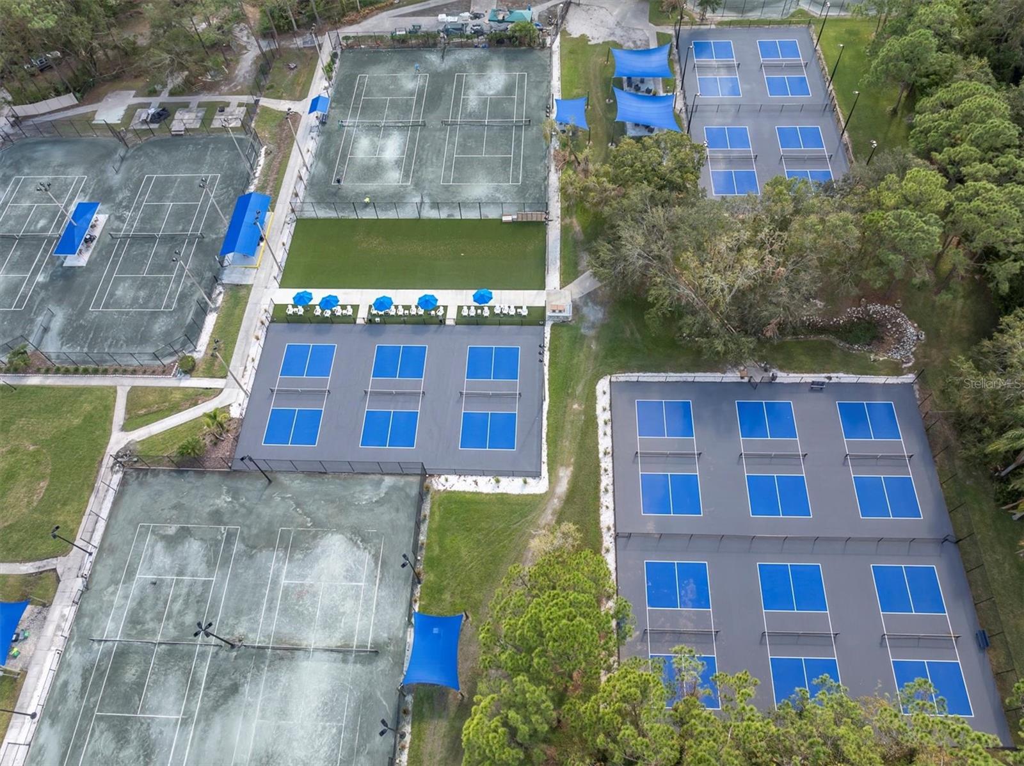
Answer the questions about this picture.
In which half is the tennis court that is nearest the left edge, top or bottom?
top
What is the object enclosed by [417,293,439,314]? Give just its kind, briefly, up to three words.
umbrella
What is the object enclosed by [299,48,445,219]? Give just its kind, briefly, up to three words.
tennis court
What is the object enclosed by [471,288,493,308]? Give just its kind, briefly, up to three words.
umbrella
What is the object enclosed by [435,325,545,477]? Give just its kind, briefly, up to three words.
sports court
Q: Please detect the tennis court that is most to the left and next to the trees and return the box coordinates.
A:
[0,136,128,366]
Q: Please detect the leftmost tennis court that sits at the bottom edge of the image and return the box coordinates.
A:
[24,469,273,766]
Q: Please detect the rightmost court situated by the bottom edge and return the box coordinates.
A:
[841,541,1014,748]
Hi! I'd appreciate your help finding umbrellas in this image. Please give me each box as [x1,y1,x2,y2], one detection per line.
[417,293,439,314]
[372,295,394,315]
[471,288,493,308]
[318,293,340,313]
[293,289,314,309]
